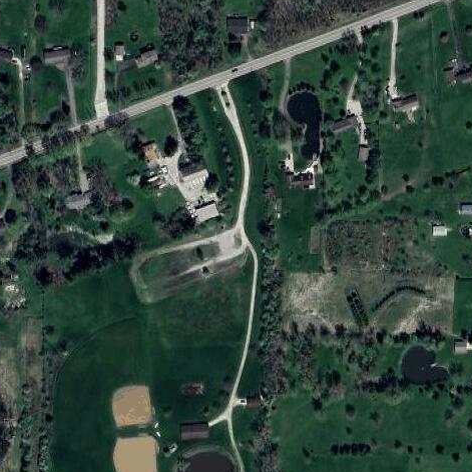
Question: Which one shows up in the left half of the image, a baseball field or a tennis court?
baseball field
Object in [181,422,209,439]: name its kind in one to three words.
building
